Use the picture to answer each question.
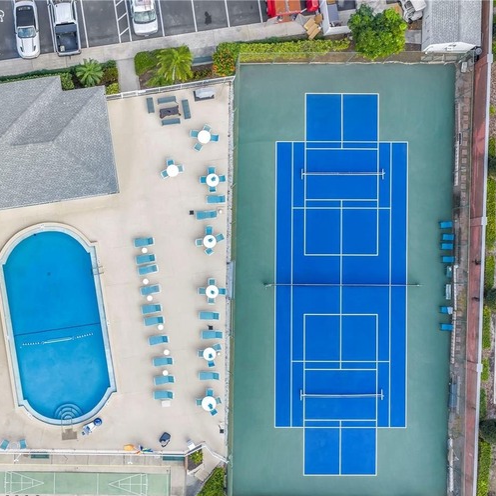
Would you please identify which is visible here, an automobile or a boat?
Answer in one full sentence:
The image shows an automobile.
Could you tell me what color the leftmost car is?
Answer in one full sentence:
The leftmost car looks white in the image.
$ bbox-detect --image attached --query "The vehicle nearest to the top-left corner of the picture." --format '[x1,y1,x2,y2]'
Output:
[11,0,41,61]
